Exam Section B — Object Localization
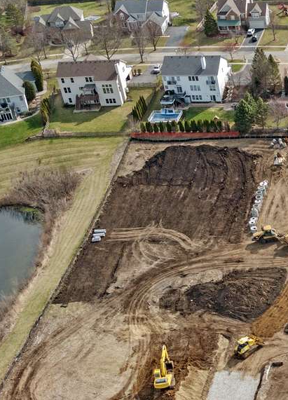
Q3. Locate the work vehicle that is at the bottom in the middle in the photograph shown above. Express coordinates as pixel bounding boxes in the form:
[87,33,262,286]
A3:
[148,339,175,399]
